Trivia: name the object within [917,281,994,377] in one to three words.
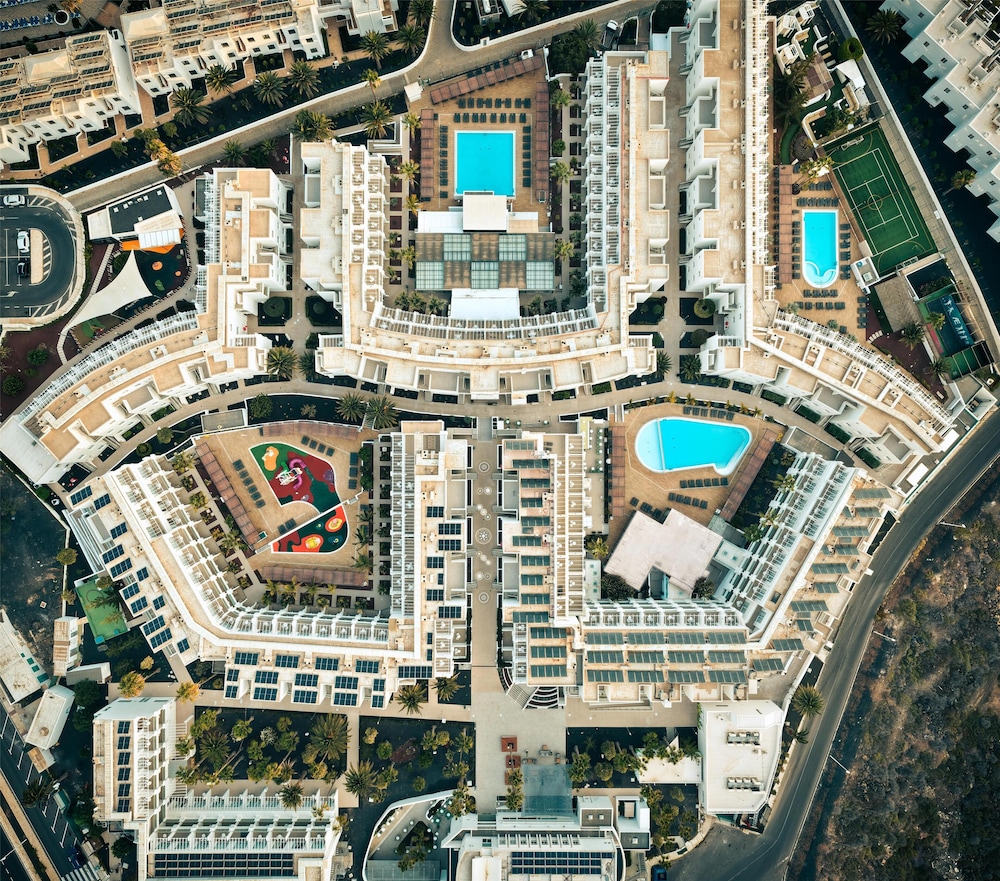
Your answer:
sports court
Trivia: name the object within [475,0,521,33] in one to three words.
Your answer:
house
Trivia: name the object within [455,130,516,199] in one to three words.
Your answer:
swimming pool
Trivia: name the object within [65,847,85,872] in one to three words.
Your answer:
car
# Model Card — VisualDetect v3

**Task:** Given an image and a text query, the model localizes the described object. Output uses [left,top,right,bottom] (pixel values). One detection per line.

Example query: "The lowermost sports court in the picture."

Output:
[69,569,130,643]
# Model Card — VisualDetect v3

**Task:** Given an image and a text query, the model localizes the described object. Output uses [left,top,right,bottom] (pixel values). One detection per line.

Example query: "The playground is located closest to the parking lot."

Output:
[69,234,187,347]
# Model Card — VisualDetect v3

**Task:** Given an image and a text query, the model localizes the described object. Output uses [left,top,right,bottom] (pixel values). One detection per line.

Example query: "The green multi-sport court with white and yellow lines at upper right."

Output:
[820,122,938,277]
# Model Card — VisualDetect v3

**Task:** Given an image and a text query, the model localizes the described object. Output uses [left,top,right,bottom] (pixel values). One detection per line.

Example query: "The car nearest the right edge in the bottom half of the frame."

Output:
[739,814,757,832]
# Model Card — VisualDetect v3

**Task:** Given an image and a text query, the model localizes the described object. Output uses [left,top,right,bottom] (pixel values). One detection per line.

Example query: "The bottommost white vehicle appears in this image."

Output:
[15,230,28,252]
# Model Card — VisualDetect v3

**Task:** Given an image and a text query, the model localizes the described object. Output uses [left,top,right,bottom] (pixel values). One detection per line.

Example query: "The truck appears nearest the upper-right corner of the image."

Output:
[599,17,621,52]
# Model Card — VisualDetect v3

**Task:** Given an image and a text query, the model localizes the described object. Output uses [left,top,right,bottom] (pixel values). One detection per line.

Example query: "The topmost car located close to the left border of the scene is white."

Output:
[1,192,23,205]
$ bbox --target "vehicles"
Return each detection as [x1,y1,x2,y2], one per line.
[653,864,666,881]
[15,230,28,252]
[739,814,757,832]
[15,254,28,276]
[1,192,23,205]
[65,847,85,872]
[599,17,621,52]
